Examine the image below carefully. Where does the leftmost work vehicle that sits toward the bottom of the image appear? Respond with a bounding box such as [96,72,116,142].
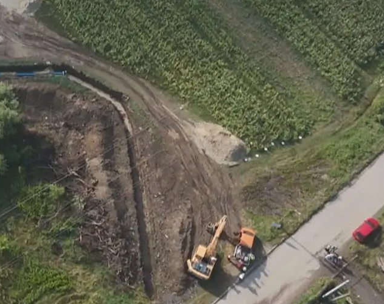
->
[186,215,228,283]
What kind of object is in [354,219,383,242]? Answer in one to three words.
car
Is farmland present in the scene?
Yes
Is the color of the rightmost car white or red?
red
